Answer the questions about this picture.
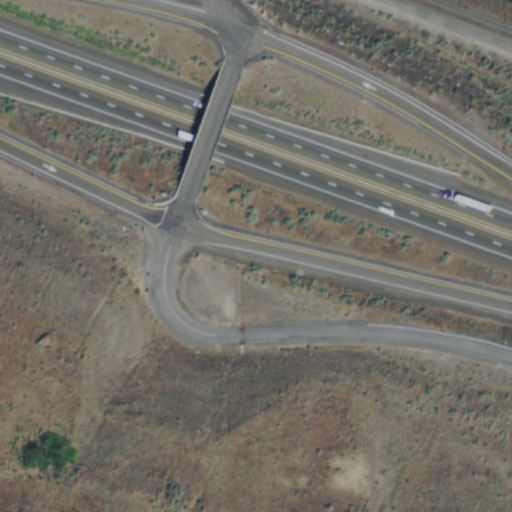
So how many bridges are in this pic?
1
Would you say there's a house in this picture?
No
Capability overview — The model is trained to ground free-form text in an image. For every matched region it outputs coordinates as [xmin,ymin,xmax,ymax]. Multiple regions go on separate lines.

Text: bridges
[178,56,245,200]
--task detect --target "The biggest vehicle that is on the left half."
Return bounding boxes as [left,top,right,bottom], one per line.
[178,130,197,142]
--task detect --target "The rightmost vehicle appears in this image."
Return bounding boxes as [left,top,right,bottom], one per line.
[440,190,492,212]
